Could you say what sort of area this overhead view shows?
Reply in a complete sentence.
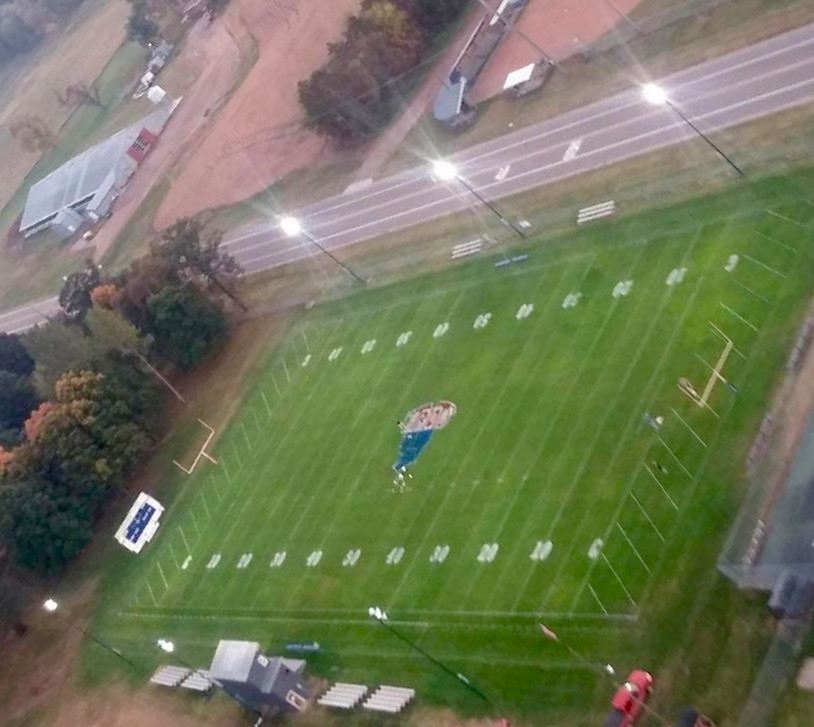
What you see here is a sports ground.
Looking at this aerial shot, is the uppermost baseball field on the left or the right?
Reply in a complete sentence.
You can find the uppermost baseball field on the right side of the picture.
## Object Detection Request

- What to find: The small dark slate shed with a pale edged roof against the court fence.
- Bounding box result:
[764,572,814,617]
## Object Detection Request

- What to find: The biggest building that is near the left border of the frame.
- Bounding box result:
[14,104,172,246]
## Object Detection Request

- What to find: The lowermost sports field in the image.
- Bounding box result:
[84,141,814,716]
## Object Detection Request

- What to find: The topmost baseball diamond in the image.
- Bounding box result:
[471,0,650,110]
